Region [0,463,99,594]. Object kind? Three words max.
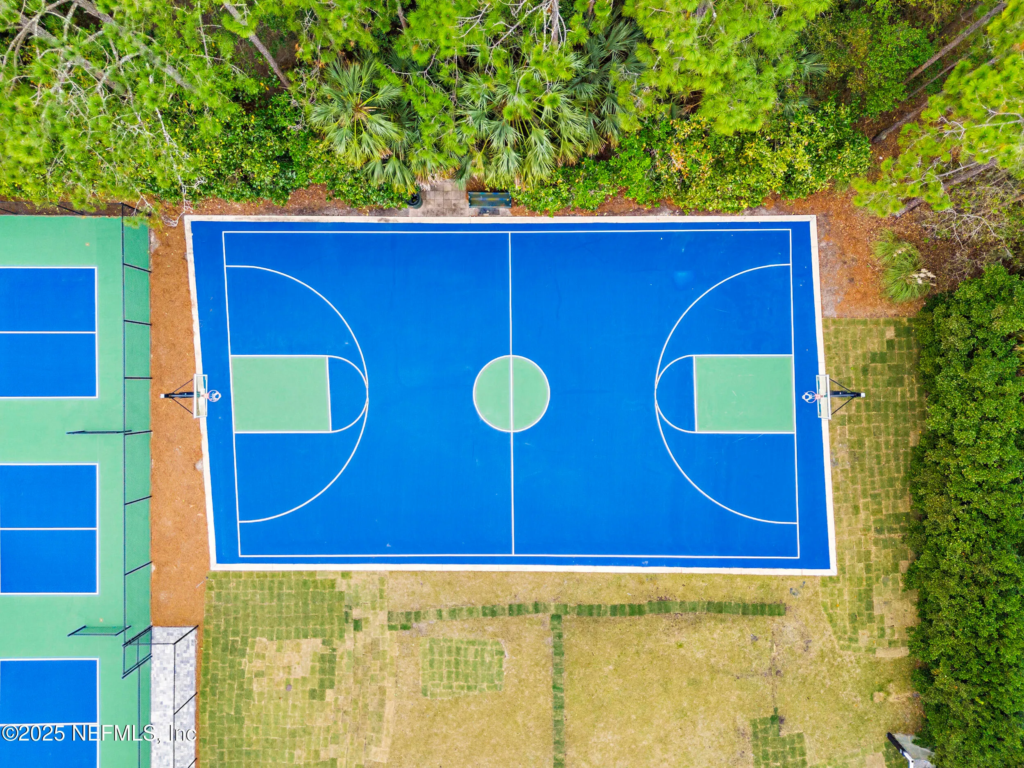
sports court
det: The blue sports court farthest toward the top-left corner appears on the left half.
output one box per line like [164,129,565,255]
[0,266,98,398]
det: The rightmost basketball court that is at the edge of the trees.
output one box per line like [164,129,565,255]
[184,215,837,576]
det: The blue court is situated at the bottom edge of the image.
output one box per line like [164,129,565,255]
[0,658,99,768]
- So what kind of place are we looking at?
sports ground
